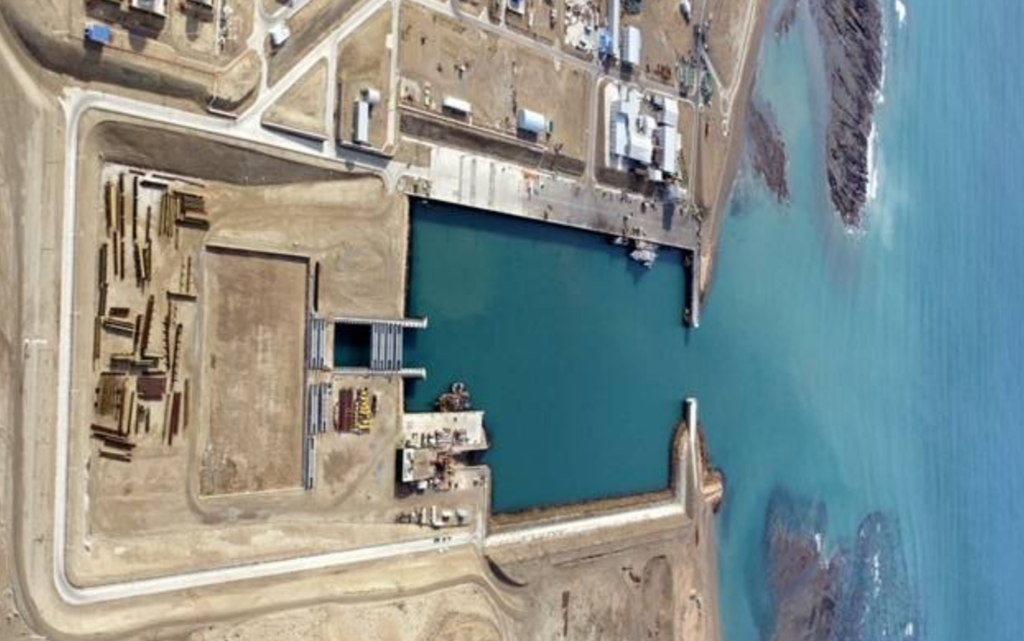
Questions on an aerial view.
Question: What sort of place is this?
port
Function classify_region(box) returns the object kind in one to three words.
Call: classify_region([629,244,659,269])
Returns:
ship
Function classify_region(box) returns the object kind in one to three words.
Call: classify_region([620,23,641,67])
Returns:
building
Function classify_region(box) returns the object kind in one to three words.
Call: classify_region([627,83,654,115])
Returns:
building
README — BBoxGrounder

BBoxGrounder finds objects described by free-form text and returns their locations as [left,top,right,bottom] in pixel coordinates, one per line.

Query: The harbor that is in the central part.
[397,147,700,411]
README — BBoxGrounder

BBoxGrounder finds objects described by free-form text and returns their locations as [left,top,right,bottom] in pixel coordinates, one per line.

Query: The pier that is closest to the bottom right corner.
[686,398,698,472]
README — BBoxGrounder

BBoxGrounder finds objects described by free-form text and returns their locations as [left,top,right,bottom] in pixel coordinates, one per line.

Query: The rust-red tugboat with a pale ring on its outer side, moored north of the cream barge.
[436,384,470,412]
